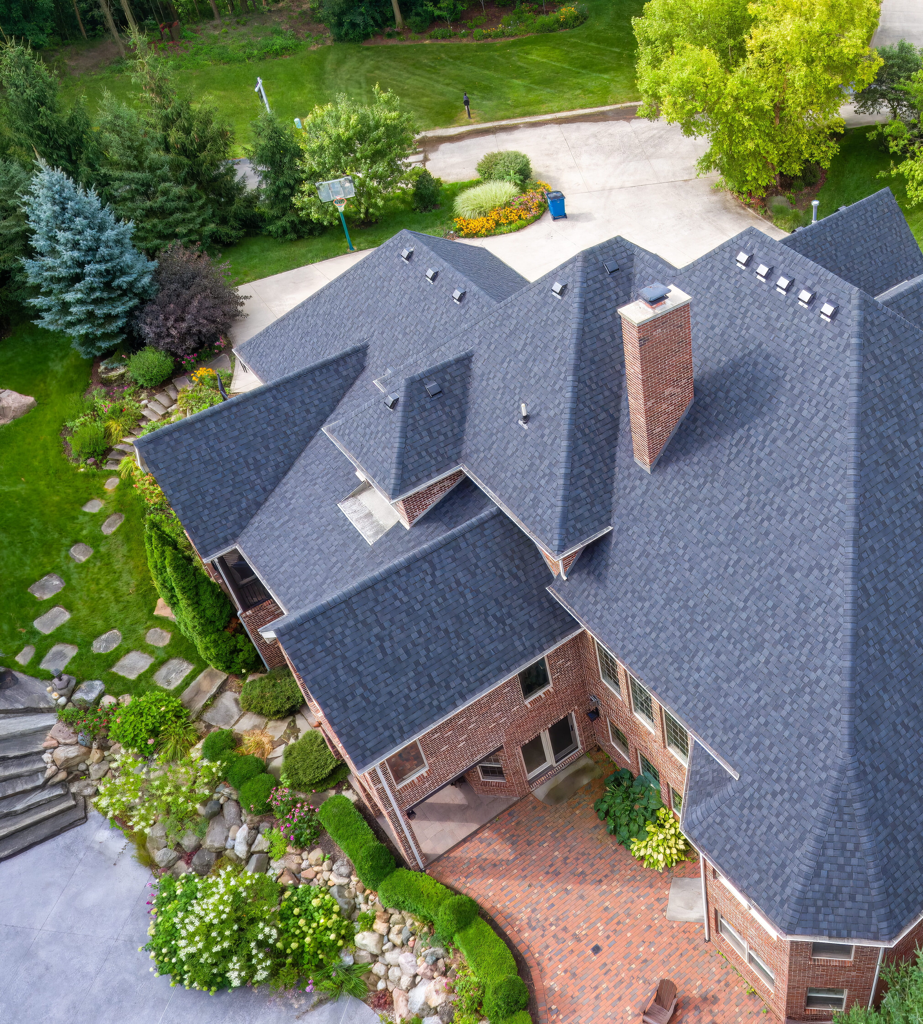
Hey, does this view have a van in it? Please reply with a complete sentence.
No, no van is visible in the view.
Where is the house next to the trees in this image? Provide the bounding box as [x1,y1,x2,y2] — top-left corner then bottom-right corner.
[133,174,923,1024]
